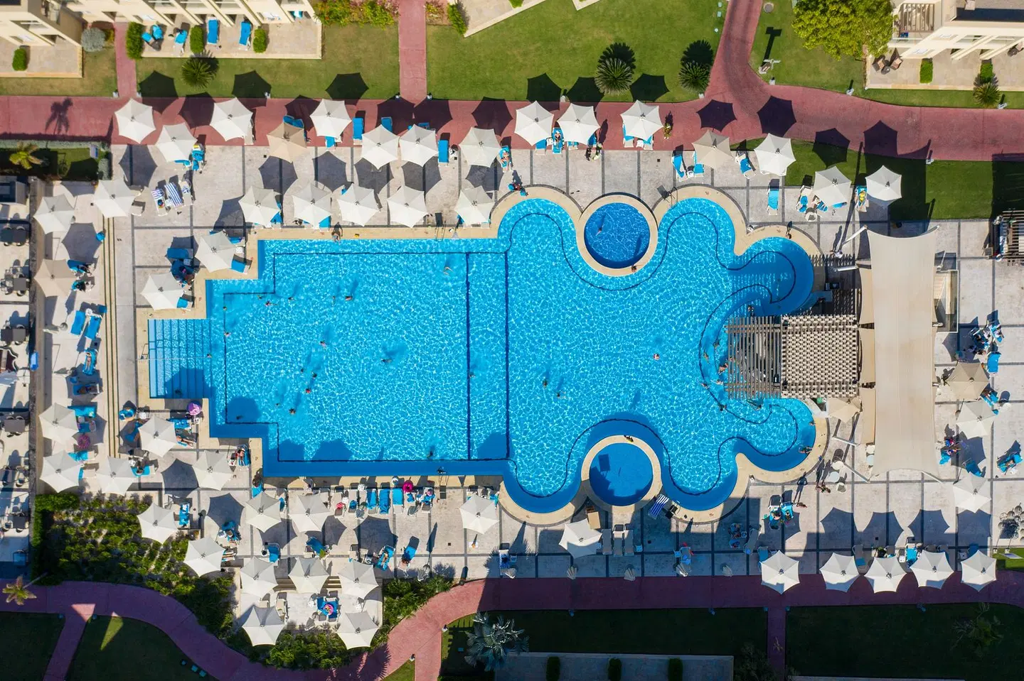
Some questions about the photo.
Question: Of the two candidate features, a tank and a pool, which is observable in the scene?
pool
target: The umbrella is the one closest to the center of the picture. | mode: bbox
[455,186,496,227]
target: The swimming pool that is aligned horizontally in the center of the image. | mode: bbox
[149,198,815,513]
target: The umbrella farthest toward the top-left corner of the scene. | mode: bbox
[116,101,157,143]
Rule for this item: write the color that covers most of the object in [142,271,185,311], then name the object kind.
white umbrella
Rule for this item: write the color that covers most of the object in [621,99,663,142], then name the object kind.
white umbrella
